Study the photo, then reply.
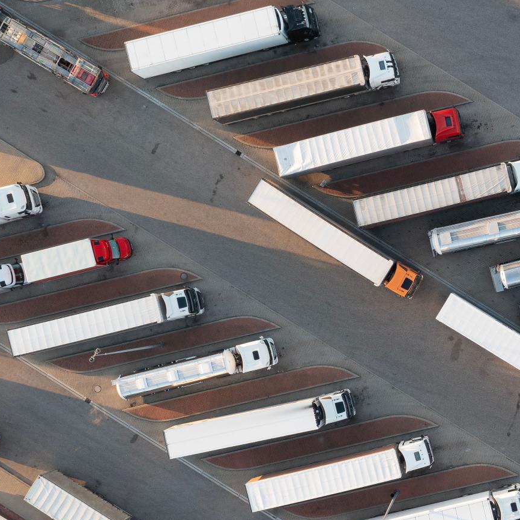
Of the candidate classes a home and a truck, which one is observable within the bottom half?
truck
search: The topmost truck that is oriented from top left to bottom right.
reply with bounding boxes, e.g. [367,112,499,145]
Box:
[0,6,114,99]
